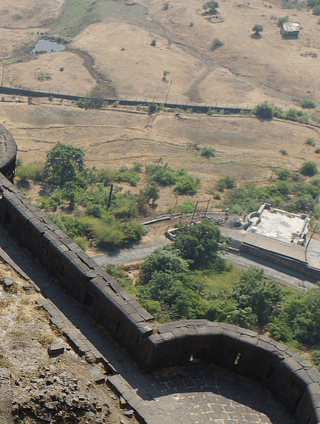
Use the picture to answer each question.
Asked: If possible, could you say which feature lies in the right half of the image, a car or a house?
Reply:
house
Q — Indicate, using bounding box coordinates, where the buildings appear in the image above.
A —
[241,201,312,262]
[275,21,303,39]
